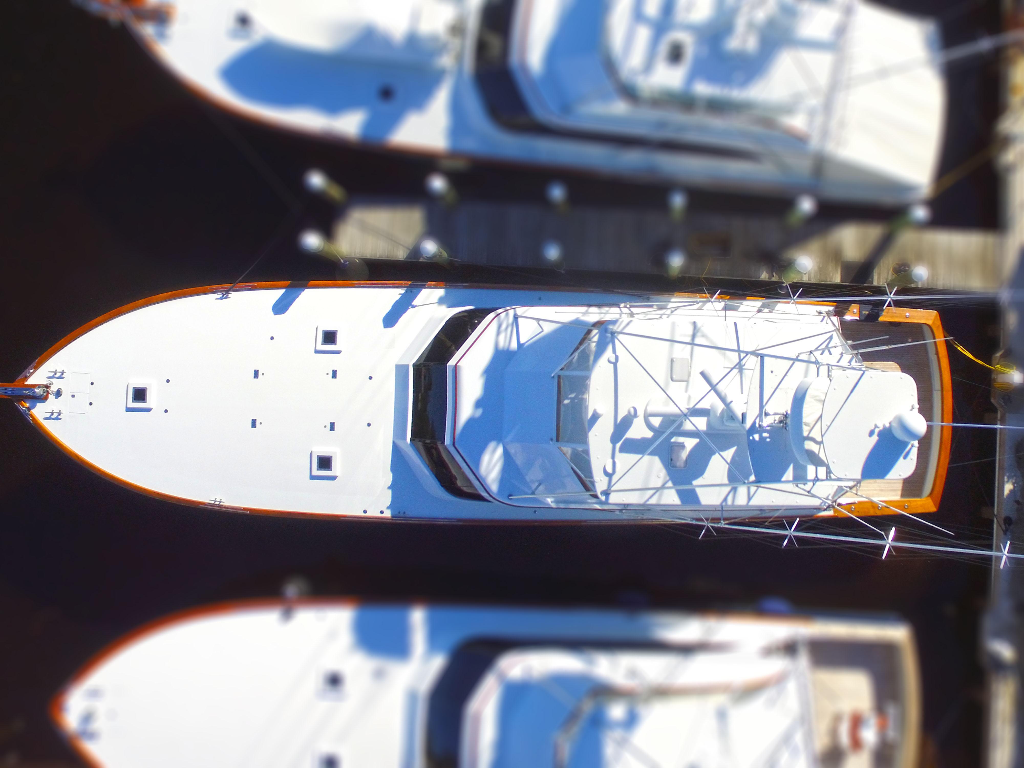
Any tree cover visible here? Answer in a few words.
No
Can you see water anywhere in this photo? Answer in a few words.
Yes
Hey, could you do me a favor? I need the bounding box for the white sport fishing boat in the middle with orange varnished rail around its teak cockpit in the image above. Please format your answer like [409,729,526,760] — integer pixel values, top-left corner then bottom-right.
[0,276,1024,576]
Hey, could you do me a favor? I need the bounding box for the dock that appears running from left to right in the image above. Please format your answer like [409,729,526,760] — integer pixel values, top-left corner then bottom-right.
[337,195,996,292]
